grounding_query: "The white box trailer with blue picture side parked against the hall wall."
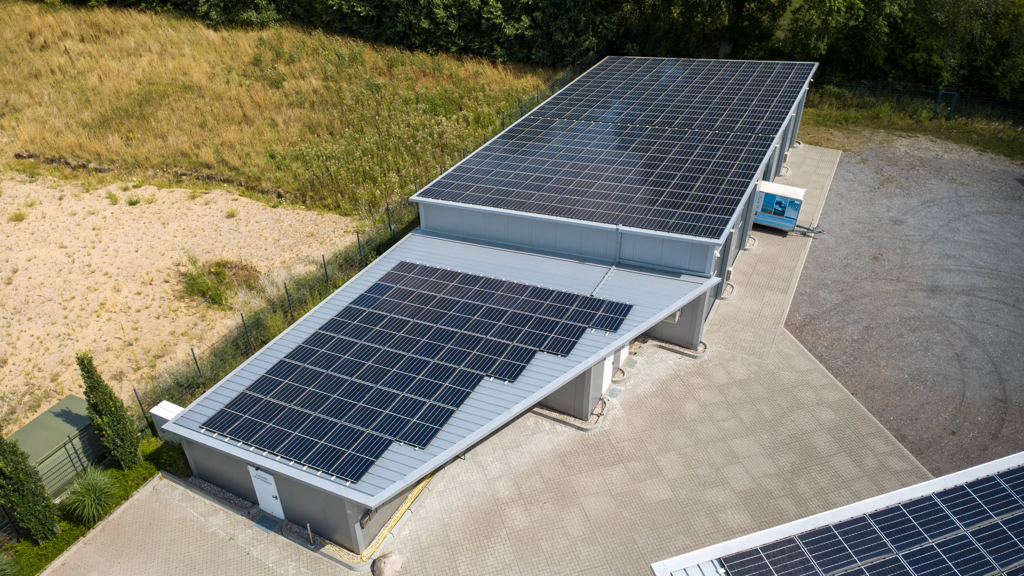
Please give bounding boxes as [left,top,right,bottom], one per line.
[755,180,830,236]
